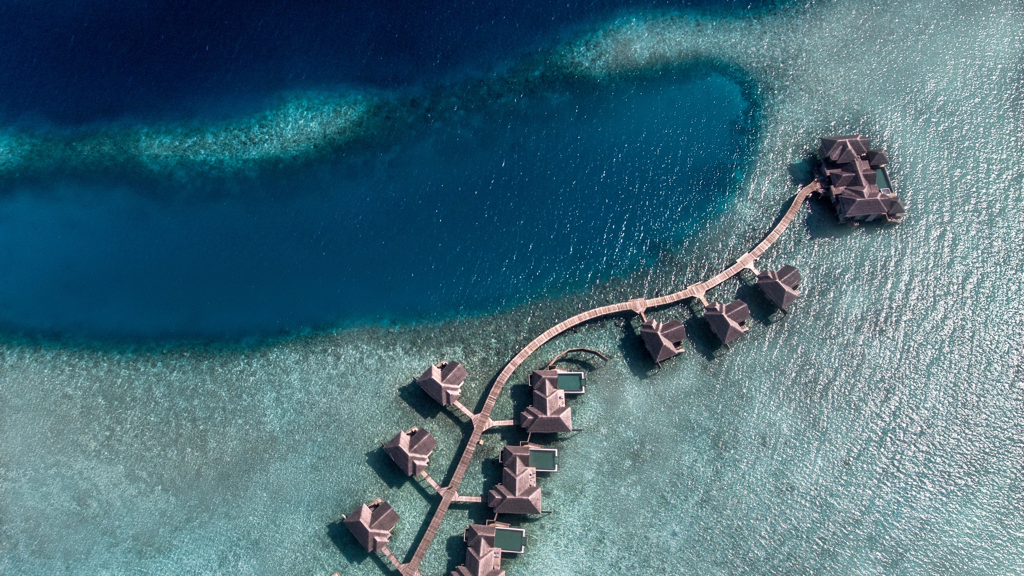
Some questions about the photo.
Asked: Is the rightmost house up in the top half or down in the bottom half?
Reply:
top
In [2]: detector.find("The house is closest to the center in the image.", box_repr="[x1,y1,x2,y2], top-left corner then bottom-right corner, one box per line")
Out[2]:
[413,359,468,415]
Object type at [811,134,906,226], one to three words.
house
